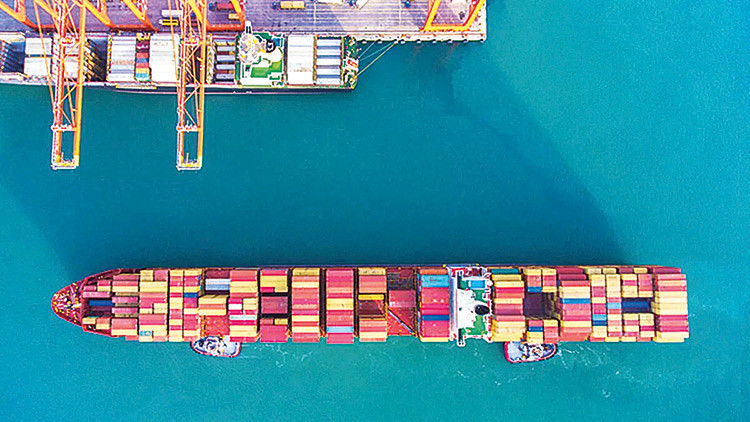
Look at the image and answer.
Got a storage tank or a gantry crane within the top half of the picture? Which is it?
gantry crane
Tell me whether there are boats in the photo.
Yes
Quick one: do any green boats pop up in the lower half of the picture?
No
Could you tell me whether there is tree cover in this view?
No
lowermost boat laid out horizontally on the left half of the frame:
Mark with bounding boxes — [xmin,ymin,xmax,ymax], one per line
[189,336,244,360]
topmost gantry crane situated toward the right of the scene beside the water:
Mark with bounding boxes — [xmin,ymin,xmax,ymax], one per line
[423,0,480,29]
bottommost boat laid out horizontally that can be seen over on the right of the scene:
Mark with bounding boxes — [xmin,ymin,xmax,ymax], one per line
[502,338,560,364]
